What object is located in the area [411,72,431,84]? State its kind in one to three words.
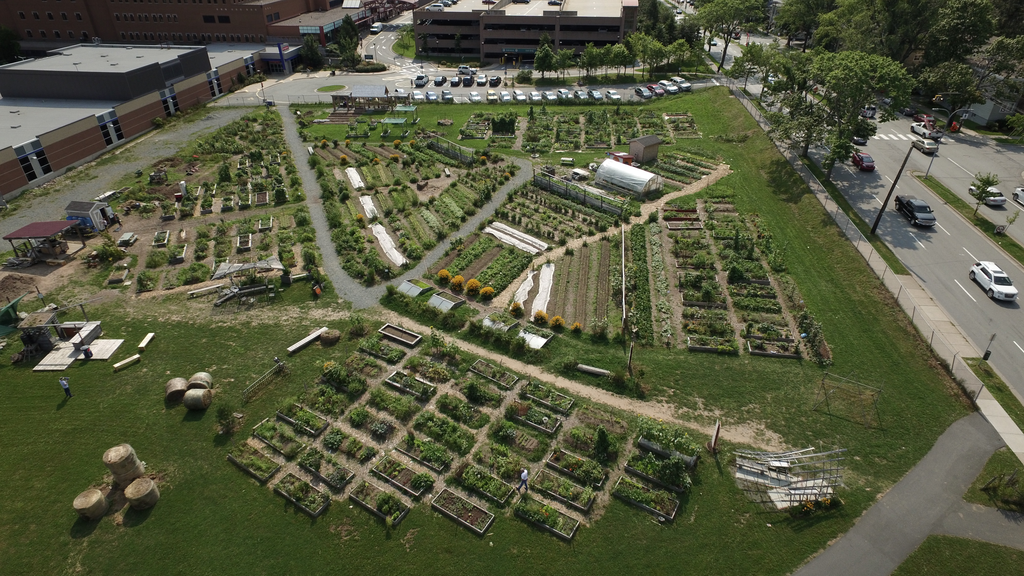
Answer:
vehicle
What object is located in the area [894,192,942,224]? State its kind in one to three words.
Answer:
truck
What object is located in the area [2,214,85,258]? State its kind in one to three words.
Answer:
building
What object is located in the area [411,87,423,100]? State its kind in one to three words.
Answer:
vehicle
